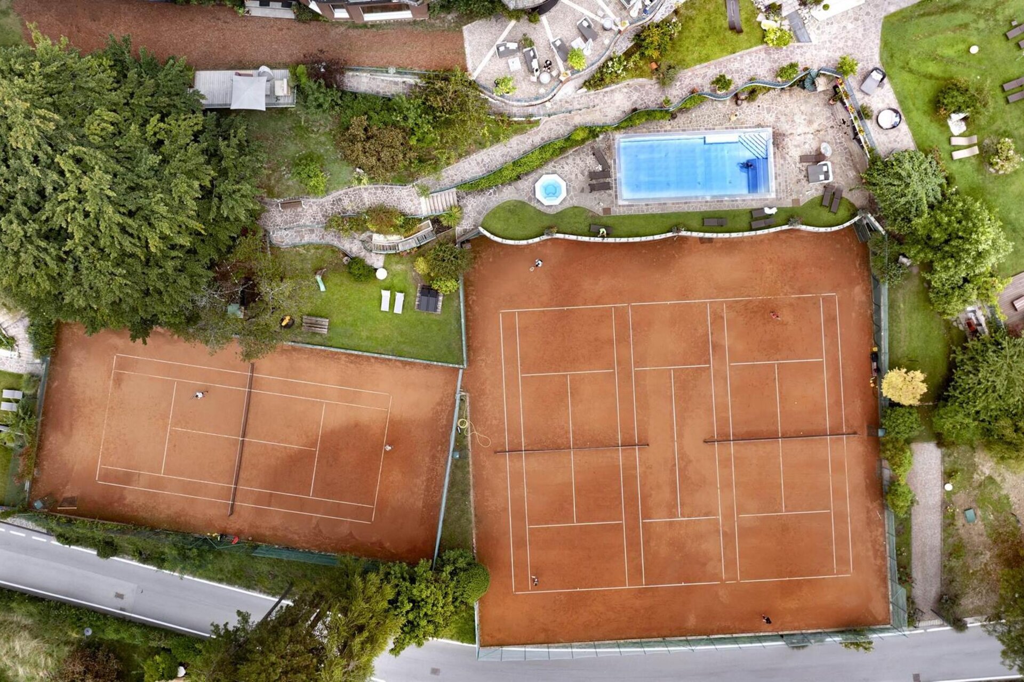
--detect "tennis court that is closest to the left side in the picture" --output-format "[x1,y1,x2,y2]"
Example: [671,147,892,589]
[30,323,463,563]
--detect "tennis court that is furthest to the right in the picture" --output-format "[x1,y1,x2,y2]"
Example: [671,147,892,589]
[701,222,892,639]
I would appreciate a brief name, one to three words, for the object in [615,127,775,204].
swimming pool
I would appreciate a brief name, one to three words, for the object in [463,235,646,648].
tennis court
